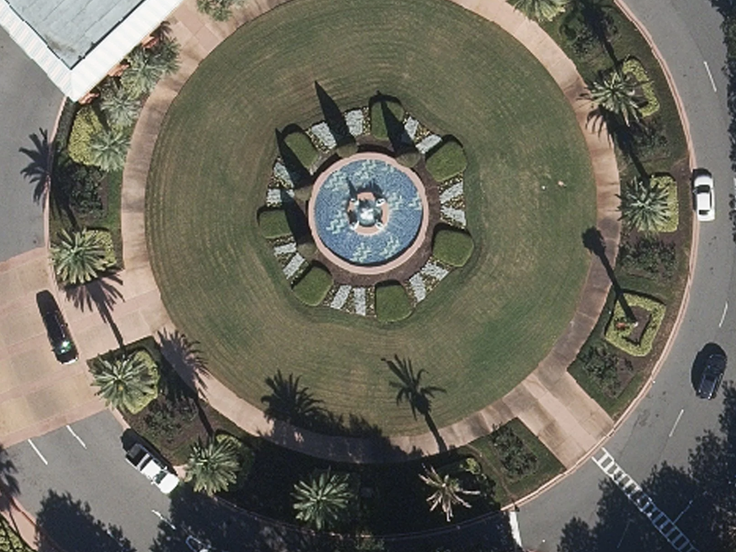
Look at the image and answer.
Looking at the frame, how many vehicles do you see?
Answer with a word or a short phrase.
4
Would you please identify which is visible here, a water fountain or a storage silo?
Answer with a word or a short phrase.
water fountain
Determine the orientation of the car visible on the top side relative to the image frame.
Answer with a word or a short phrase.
from top to bottom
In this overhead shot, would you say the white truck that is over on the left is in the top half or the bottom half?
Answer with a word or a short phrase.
bottom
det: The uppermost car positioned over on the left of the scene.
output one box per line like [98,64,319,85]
[40,311,78,365]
